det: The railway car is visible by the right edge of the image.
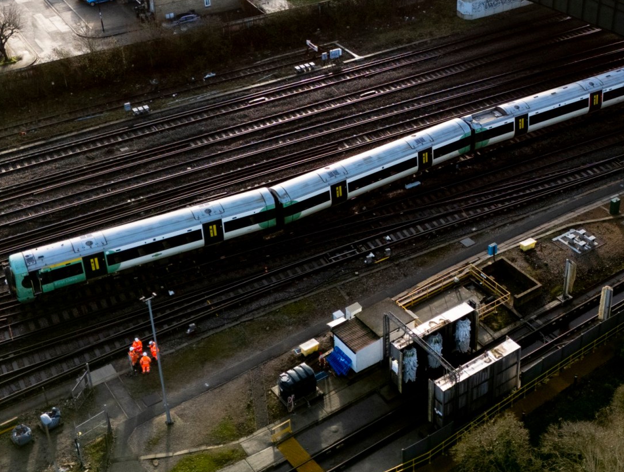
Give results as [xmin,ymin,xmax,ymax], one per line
[459,64,624,152]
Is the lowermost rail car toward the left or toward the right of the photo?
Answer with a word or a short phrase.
left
